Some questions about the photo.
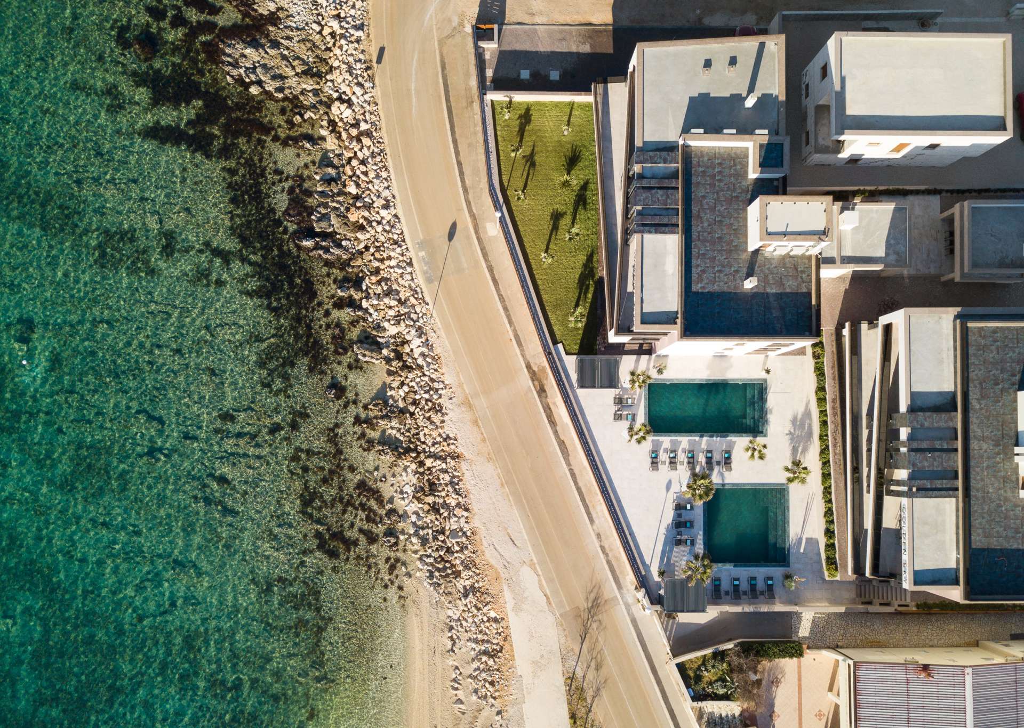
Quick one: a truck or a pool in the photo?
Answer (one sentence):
The one in the frame is a pool.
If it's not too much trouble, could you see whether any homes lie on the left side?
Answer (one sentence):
No, on the left side there is no home.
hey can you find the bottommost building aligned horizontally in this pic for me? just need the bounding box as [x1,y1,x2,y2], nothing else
[835,648,1024,728]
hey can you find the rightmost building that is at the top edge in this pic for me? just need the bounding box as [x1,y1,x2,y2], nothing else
[804,27,1013,166]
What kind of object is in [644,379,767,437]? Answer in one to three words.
swimming pool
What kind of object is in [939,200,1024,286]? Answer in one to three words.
house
